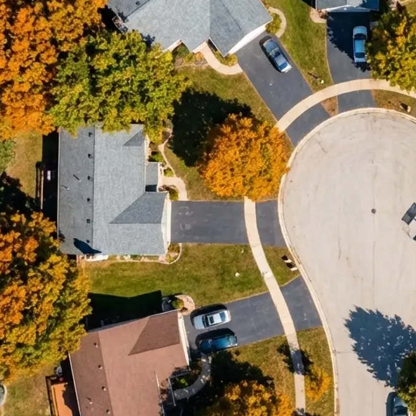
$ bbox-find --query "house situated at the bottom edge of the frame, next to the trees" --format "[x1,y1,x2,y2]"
[66,308,196,416]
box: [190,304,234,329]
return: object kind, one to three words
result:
car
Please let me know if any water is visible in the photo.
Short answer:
No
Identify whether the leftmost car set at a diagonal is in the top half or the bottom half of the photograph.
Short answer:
top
